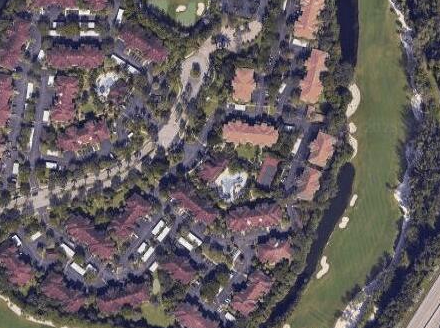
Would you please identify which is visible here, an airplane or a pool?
pool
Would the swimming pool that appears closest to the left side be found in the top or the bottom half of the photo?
top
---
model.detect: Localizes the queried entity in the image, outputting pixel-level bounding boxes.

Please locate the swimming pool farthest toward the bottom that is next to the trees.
[216,168,249,202]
